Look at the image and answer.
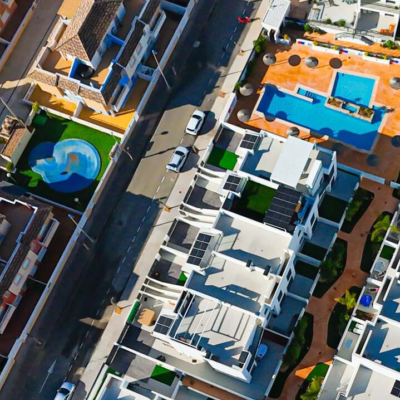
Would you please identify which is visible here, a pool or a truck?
pool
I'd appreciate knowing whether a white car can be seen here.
Yes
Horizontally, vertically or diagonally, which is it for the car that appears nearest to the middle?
diagonally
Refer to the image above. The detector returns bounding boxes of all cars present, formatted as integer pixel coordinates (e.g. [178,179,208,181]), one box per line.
[52,381,77,400]
[164,145,191,173]
[184,109,206,137]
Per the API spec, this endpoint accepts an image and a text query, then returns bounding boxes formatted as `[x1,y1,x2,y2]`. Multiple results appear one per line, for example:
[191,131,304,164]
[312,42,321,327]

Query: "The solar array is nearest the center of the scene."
[219,174,238,196]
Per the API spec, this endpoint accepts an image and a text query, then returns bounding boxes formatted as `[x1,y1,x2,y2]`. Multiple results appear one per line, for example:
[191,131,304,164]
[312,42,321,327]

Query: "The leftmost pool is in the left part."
[29,134,98,186]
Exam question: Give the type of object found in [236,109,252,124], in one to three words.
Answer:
umbrella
